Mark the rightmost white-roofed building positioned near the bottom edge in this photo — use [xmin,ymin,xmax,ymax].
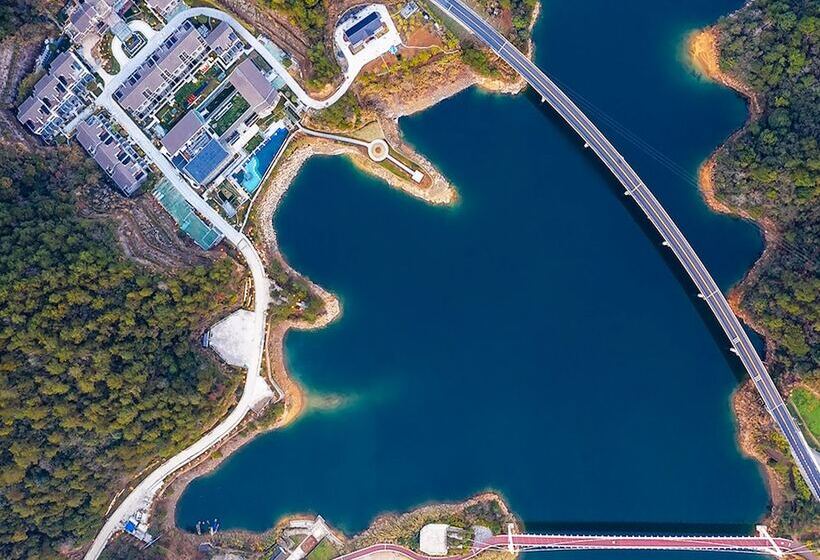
[420,522,450,554]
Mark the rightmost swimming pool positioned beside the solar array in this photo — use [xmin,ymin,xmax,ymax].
[232,127,290,194]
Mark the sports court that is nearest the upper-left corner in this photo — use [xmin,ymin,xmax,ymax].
[151,180,192,224]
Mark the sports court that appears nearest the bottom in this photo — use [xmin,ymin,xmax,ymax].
[179,210,219,249]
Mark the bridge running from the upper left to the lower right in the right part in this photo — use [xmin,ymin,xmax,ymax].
[445,0,786,411]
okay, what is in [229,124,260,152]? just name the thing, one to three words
building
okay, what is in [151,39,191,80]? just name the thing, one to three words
house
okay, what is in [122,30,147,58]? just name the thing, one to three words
fountain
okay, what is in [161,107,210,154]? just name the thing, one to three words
building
